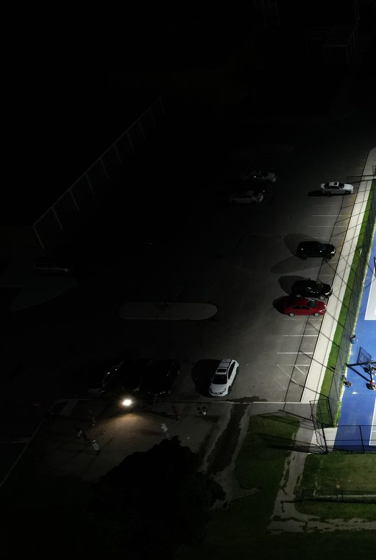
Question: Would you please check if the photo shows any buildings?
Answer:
Yes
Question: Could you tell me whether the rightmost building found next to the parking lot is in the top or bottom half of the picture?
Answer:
top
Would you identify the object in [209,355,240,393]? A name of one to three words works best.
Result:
car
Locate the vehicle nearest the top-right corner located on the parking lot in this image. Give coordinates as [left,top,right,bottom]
[320,181,354,195]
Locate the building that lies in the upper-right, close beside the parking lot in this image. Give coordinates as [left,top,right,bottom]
[221,22,358,62]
